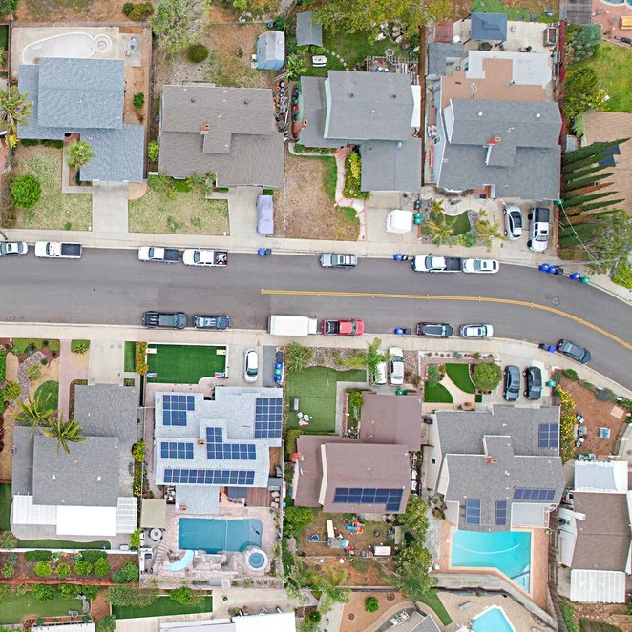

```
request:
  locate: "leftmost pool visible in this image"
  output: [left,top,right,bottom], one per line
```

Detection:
[16,29,98,64]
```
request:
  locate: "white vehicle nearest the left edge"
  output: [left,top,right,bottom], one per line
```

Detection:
[0,240,28,257]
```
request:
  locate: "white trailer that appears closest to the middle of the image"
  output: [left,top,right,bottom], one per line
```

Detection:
[270,315,328,336]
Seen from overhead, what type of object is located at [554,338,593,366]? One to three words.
car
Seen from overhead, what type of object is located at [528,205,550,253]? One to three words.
truck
